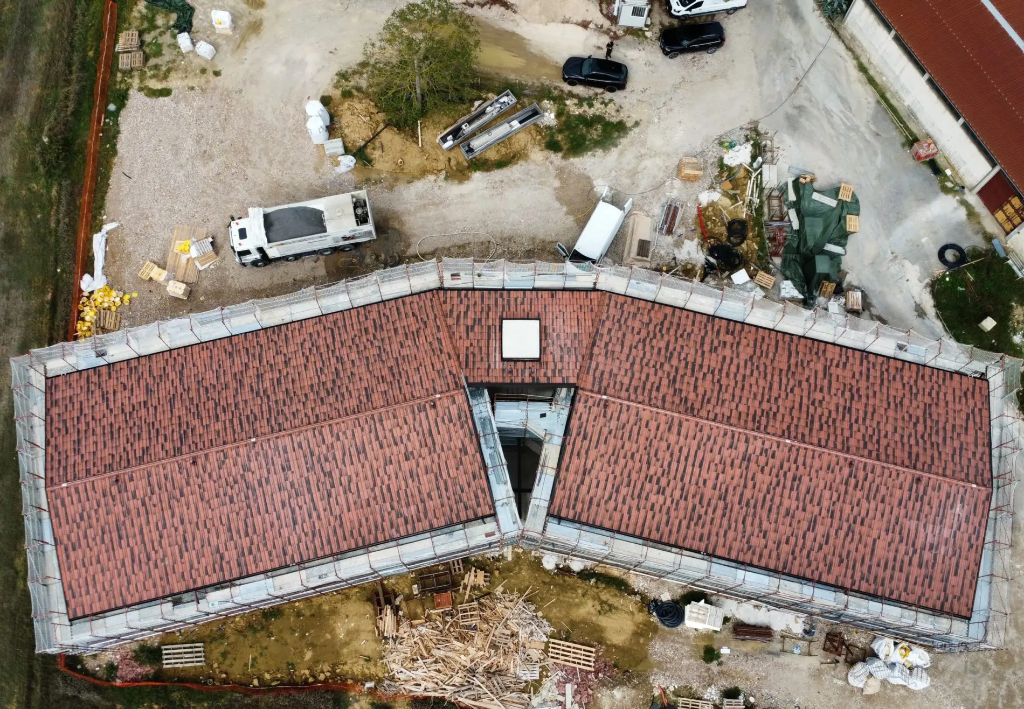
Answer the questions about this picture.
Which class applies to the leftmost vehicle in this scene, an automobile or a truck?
truck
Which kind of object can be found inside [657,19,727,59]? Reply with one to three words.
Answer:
car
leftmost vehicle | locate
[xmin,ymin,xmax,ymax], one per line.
[224,189,377,268]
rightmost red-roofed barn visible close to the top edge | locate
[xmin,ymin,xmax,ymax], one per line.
[826,0,1024,239]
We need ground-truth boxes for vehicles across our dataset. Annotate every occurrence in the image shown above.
[562,191,630,276]
[657,19,727,59]
[560,53,630,93]
[667,0,752,19]
[224,189,377,268]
